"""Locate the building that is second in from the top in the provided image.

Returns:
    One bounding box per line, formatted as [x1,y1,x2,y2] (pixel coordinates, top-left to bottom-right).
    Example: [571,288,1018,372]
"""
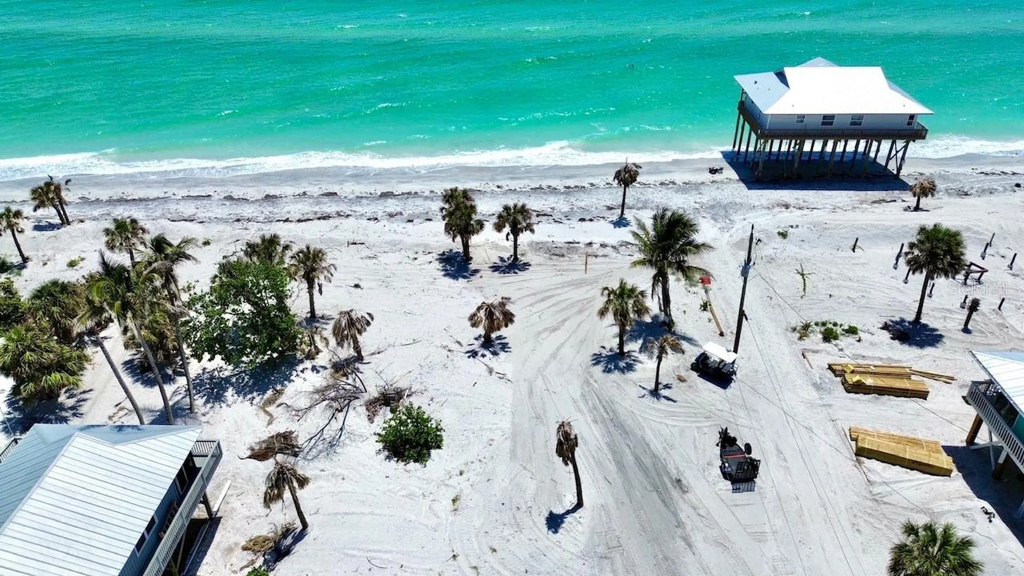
[951,349,1024,482]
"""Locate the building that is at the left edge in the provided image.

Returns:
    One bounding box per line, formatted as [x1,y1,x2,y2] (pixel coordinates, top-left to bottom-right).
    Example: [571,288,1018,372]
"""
[0,422,227,576]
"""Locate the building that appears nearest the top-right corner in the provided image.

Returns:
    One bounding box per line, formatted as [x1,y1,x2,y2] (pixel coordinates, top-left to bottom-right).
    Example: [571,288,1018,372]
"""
[729,57,936,180]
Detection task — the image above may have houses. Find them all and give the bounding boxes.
[0,422,227,576]
[951,349,1024,482]
[729,57,936,180]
